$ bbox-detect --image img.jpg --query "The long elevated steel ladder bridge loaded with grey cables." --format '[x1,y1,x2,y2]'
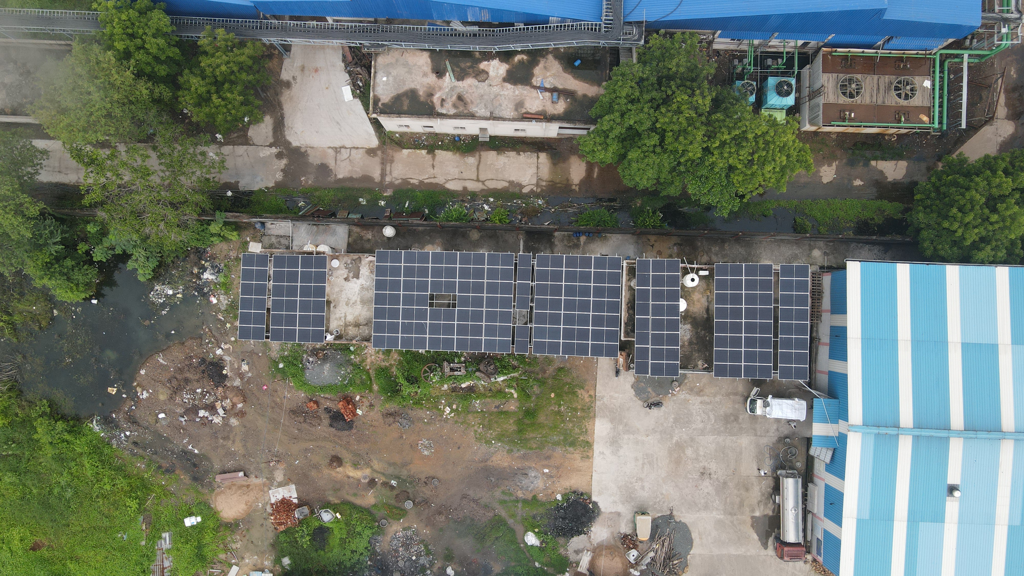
[0,0,645,58]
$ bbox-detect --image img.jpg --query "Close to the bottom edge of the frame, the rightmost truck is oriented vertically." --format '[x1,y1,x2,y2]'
[766,464,804,566]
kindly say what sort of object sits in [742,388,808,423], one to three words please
truck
